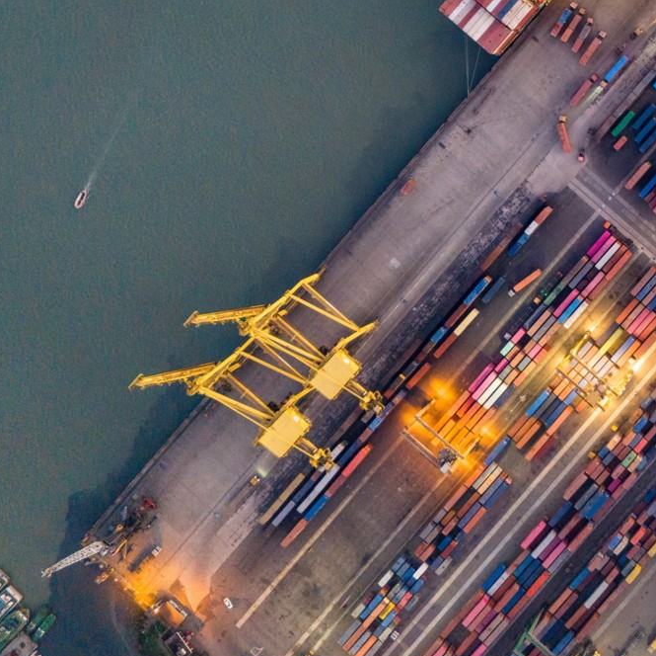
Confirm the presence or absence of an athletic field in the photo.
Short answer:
No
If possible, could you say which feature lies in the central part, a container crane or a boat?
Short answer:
container crane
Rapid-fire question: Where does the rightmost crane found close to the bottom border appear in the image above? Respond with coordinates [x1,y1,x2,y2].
[510,600,587,656]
